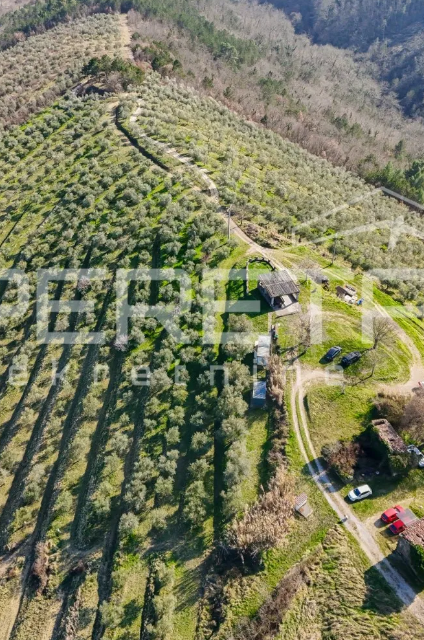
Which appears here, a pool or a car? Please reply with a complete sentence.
The one in the frame is a car.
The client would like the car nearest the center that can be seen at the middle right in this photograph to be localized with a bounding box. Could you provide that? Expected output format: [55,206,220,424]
[324,344,344,361]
